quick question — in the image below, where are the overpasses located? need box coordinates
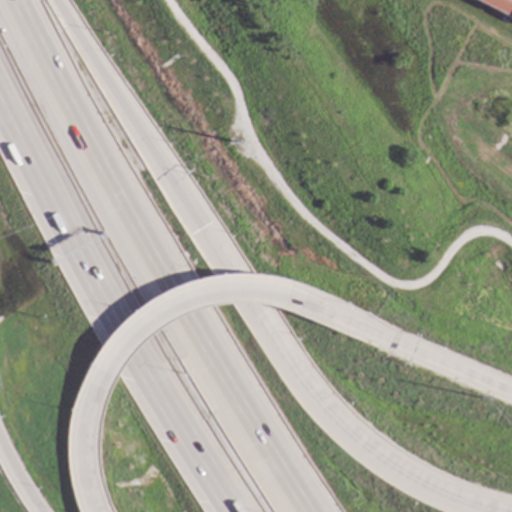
[68,273,344,512]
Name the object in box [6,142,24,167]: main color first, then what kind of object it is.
white vehicle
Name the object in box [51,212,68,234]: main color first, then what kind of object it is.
white vehicle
